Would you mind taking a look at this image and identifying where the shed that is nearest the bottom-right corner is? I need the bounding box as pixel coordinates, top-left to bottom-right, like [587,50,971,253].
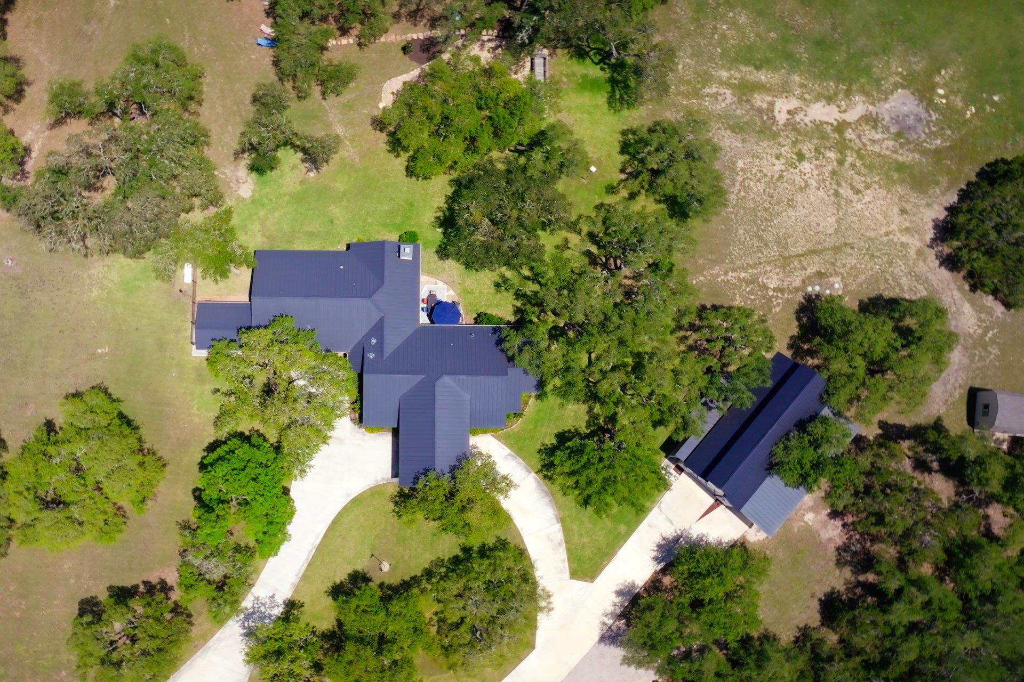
[975,390,1024,431]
